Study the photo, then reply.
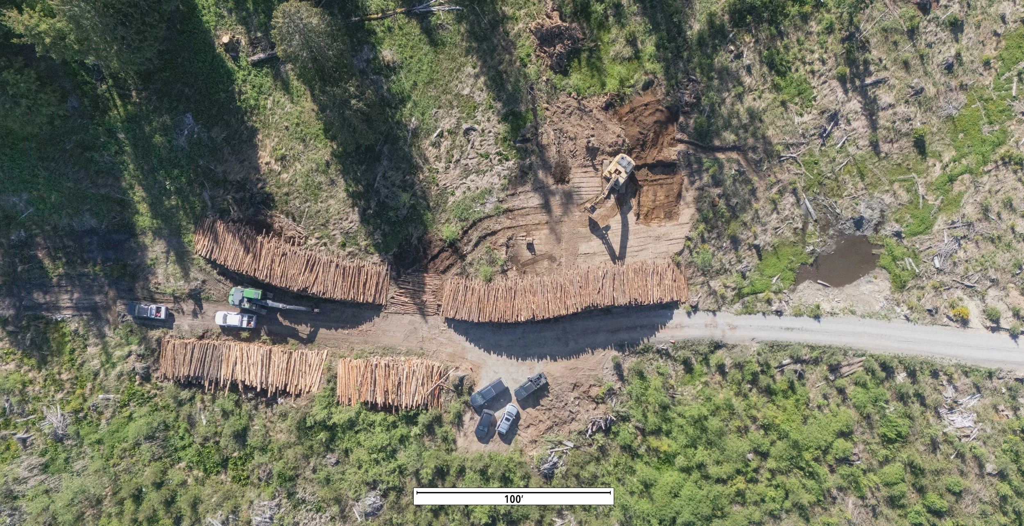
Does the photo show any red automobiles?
No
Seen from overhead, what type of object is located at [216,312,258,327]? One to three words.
vehicle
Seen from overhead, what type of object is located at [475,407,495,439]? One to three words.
car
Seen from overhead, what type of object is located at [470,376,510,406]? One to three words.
truck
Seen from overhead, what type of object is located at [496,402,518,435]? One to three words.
car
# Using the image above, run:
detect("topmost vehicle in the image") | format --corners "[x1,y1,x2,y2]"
[586,155,634,213]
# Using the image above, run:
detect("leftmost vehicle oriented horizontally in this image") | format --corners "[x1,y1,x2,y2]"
[128,303,171,320]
